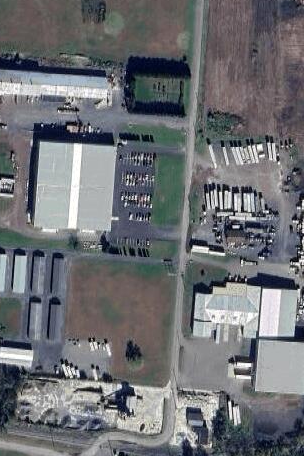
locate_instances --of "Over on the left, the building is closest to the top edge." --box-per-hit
[0,66,115,104]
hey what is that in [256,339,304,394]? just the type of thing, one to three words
building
